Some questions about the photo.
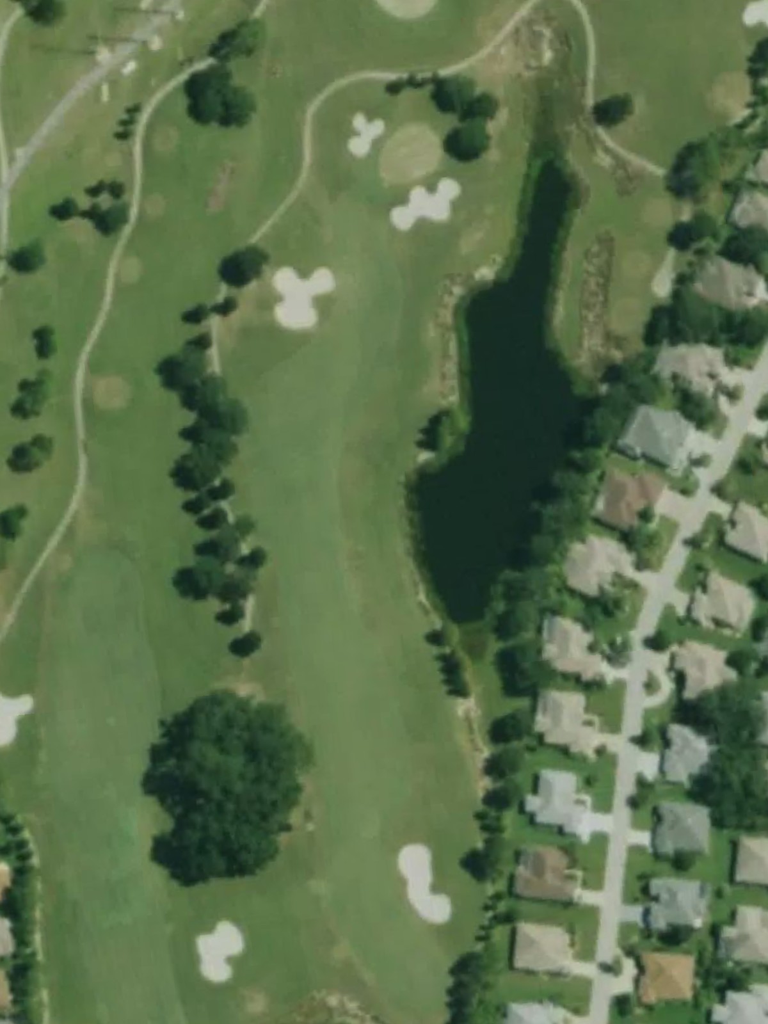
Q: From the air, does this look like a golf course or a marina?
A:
golf course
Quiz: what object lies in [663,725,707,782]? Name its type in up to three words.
house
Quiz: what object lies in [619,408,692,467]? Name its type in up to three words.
house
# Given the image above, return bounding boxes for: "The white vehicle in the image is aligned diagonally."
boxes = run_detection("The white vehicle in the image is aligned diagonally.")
[122,59,137,73]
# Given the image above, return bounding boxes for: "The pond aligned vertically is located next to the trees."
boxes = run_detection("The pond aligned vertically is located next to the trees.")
[415,161,591,623]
